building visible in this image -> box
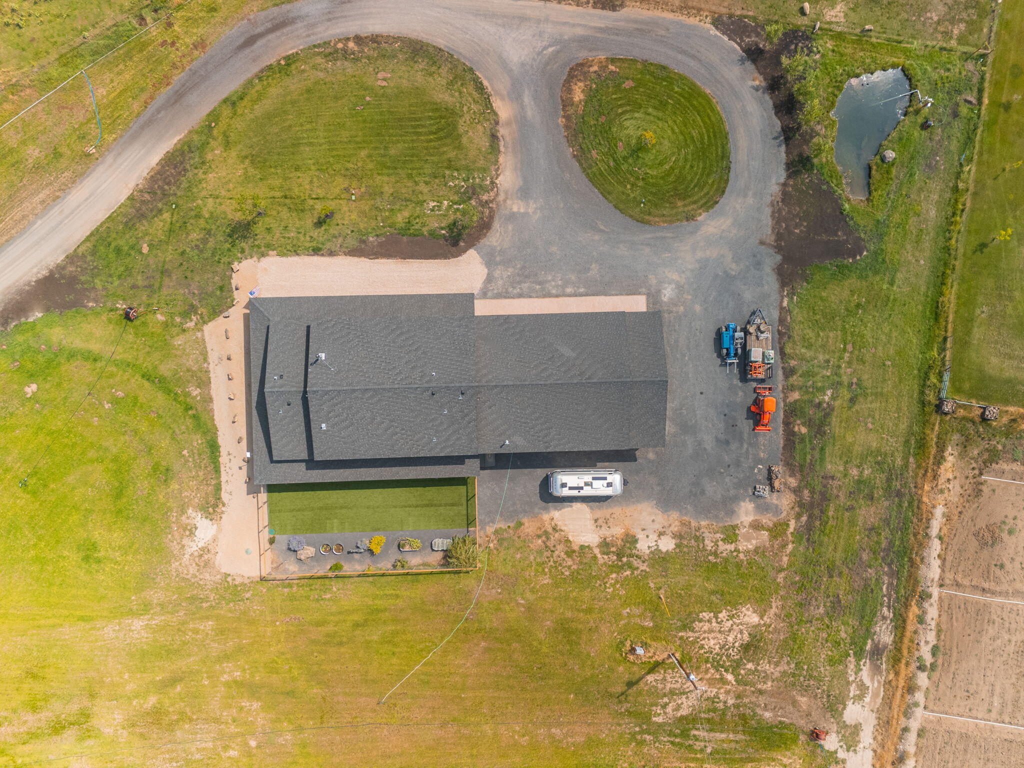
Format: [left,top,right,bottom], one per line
[249,293,668,485]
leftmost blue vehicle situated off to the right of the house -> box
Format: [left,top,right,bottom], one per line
[720,322,747,373]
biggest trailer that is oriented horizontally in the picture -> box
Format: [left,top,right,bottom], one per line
[547,469,627,497]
